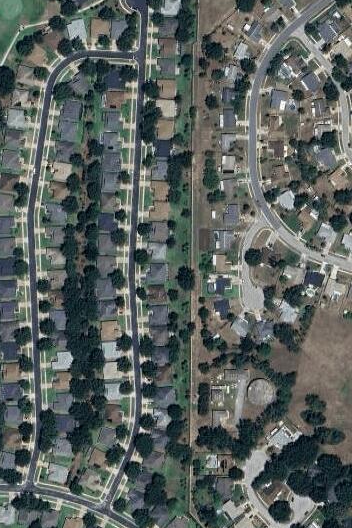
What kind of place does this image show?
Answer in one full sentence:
The picture captures a residential area.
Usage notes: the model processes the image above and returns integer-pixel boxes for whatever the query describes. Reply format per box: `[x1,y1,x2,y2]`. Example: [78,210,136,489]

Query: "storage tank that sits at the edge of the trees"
[247,378,276,406]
